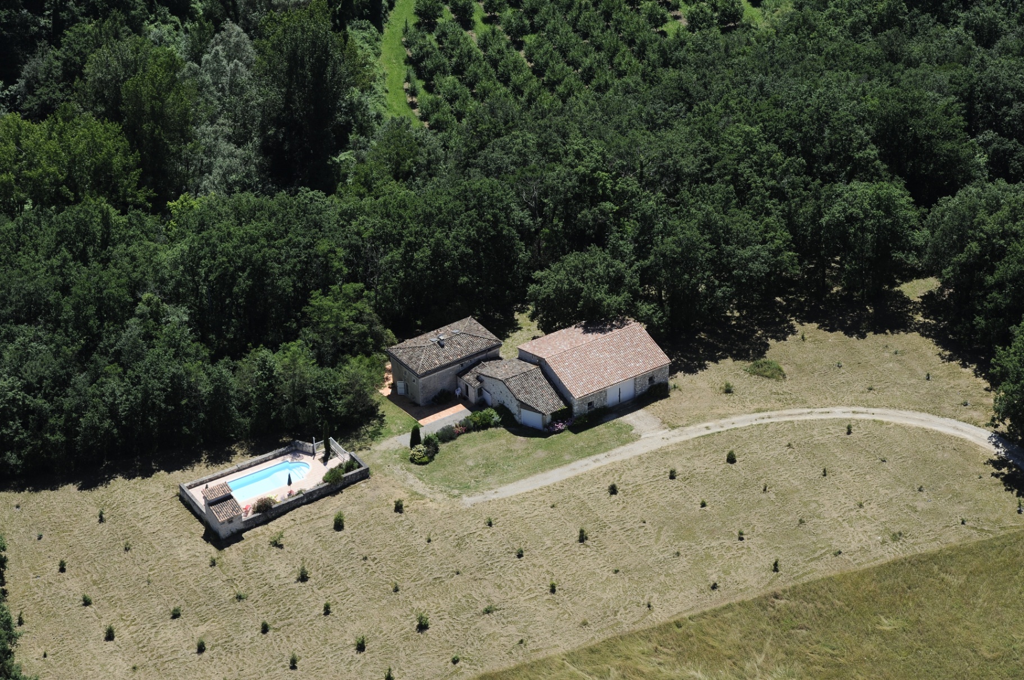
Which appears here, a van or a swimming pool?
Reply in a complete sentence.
It is a swimming pool that can be seen here.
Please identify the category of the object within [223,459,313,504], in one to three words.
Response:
swimming pool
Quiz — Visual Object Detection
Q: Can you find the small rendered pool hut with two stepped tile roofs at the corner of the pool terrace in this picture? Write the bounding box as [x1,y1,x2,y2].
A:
[201,482,244,540]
